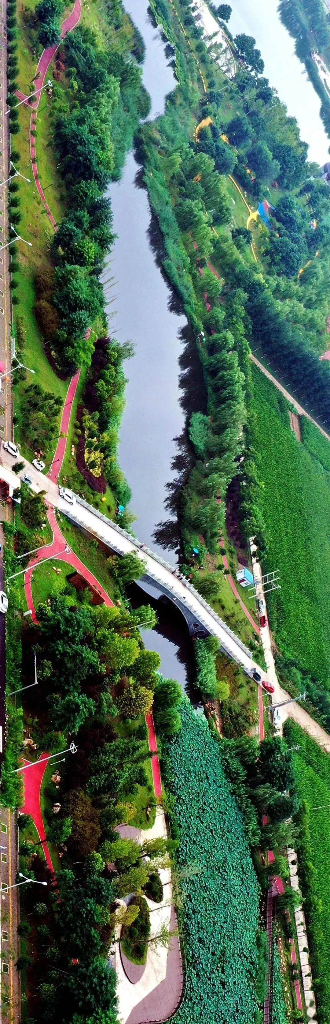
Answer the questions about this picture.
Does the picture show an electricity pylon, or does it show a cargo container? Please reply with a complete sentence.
The one in the frame is an electricity pylon.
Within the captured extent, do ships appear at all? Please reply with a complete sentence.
No, I can't see a single ship in this photo.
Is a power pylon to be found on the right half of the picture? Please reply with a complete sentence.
Yes, I can see a power pylon on the right half of the picture.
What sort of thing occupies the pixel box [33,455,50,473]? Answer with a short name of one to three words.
car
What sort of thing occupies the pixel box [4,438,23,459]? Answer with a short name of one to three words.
car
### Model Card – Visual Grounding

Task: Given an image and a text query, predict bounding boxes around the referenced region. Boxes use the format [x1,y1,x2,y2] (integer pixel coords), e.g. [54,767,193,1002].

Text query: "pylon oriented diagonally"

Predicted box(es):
[248,569,282,599]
